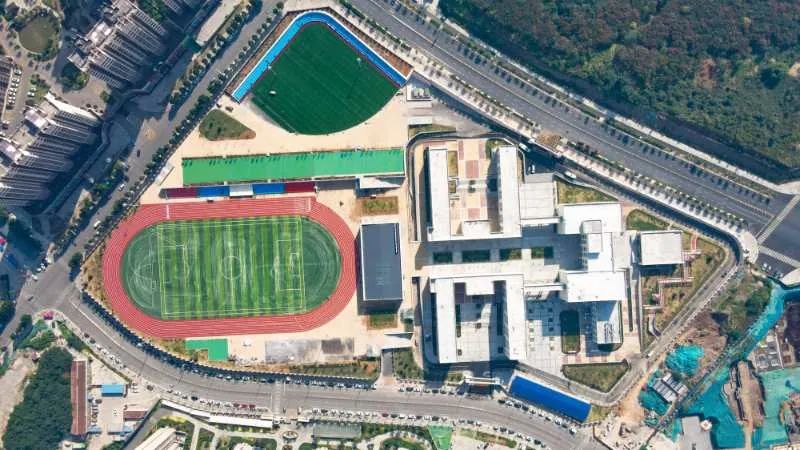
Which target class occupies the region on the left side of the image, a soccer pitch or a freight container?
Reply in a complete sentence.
Looking on the left side of the image, you will find a soccer pitch.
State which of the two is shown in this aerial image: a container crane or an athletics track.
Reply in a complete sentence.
This aerial view contains an athletics track.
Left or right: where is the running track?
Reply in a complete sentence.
You can find the running track on the left side of the picture.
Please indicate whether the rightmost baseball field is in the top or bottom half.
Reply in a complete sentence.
The top half of the photo is where the rightmost baseball field is.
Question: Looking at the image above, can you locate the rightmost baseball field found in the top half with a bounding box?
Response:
[246,22,398,135]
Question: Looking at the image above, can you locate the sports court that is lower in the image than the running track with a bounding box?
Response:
[185,339,227,356]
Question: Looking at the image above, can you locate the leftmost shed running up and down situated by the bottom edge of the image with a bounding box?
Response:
[71,359,92,436]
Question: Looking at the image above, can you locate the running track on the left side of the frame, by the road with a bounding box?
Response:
[103,196,357,338]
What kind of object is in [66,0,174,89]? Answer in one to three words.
building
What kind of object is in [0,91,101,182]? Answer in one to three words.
building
